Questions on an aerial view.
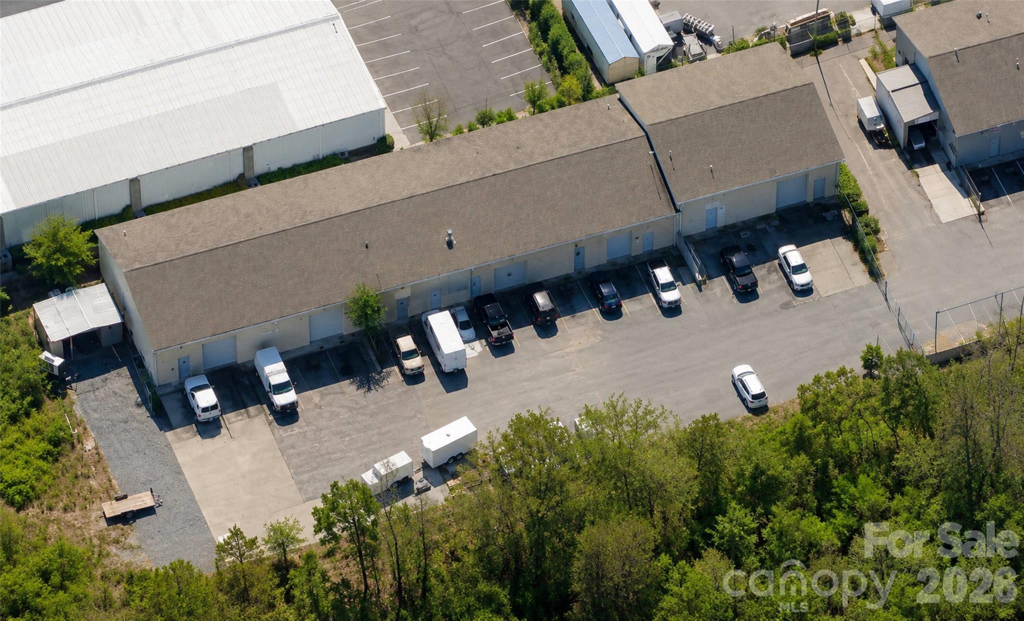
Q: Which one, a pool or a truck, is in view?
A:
truck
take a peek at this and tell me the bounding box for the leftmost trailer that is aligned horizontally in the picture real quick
[99,486,164,522]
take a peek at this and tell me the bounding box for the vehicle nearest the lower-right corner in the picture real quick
[731,367,770,412]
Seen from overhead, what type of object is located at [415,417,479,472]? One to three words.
trailer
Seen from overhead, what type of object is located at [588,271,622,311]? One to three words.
car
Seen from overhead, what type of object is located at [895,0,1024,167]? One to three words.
building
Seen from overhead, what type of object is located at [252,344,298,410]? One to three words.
van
